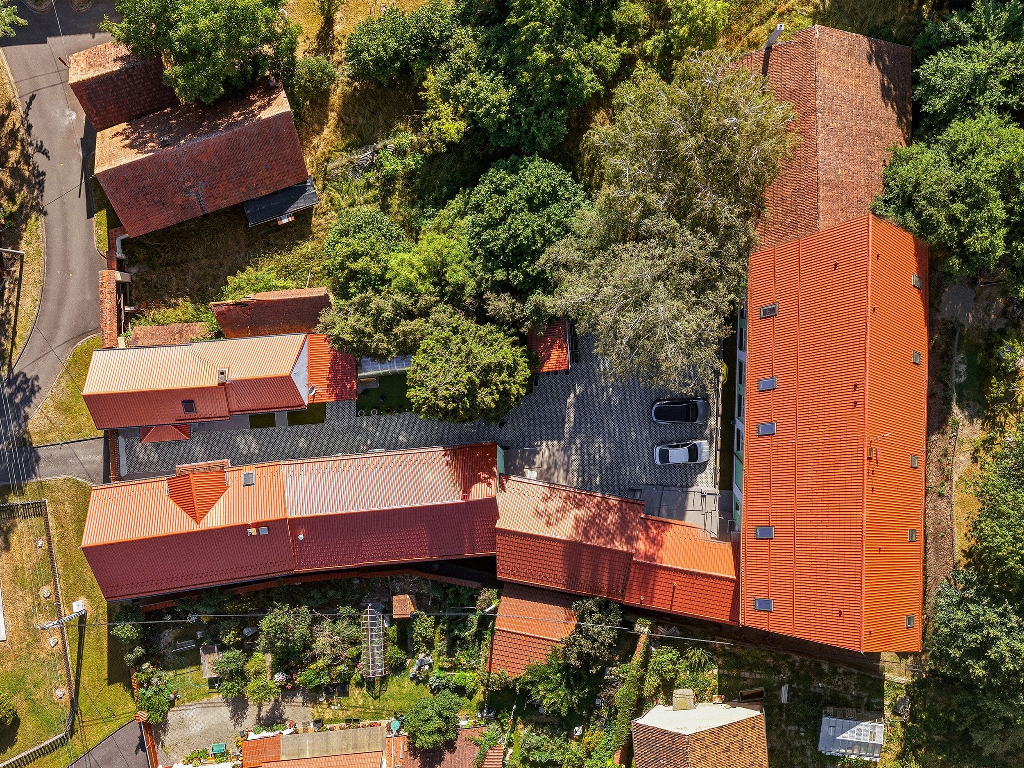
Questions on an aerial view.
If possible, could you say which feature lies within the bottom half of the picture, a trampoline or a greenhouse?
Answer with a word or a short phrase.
greenhouse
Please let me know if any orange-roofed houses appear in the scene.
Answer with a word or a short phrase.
Yes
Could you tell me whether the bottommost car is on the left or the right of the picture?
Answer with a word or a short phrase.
right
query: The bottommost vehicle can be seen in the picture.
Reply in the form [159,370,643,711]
[652,437,711,467]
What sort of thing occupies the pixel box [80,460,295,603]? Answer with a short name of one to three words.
house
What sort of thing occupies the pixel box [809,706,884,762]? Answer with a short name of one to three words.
greenhouse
